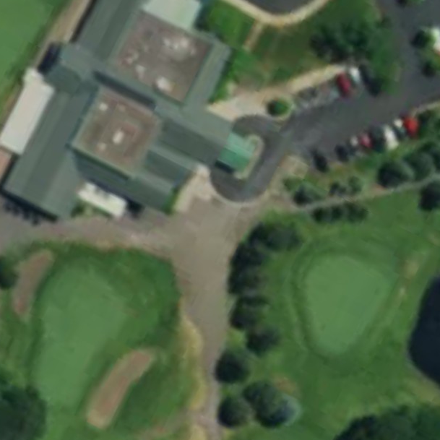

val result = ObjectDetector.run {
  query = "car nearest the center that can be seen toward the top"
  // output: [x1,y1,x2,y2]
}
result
[313,150,327,170]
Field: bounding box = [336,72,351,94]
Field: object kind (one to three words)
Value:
car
